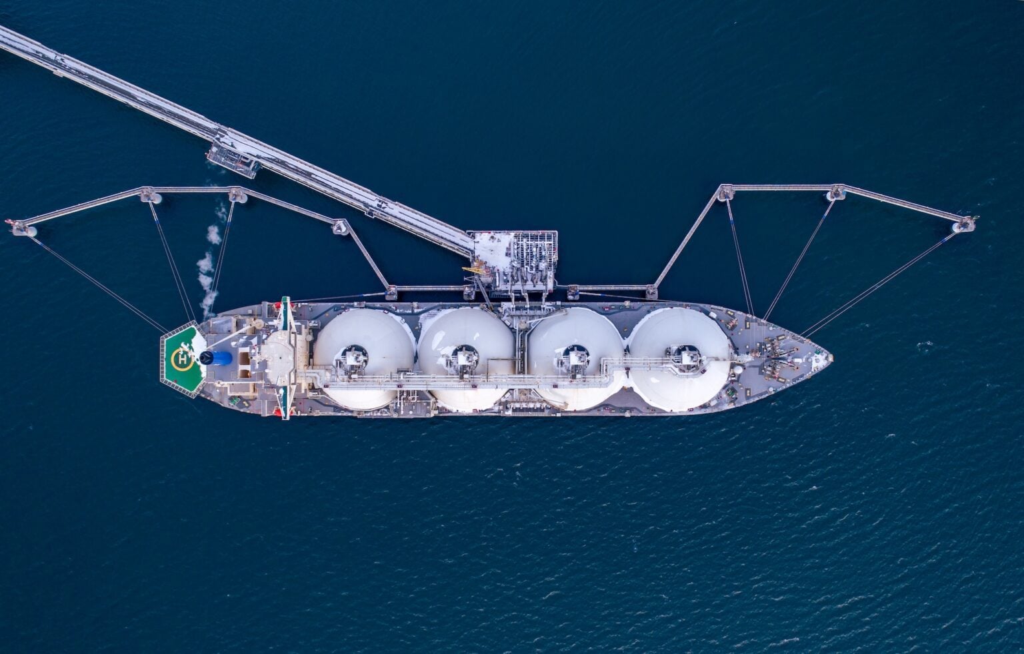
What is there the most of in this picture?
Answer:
water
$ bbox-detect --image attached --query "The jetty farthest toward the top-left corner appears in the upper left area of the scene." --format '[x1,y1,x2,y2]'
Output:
[0,24,467,254]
